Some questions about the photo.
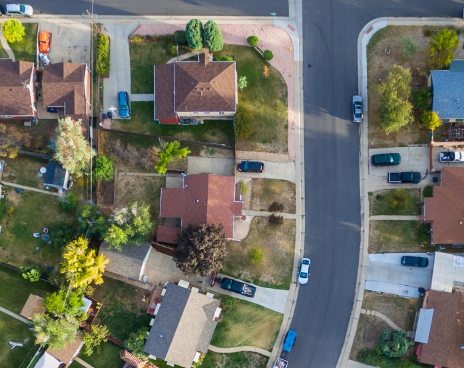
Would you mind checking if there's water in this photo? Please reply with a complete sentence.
No, the scene doesn't show any water.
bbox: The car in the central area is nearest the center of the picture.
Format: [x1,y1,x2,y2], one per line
[237,159,265,174]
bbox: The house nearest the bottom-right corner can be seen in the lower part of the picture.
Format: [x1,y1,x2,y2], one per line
[417,290,464,368]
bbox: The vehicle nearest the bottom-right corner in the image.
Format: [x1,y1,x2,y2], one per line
[399,255,429,268]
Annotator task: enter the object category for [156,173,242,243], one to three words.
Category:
house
